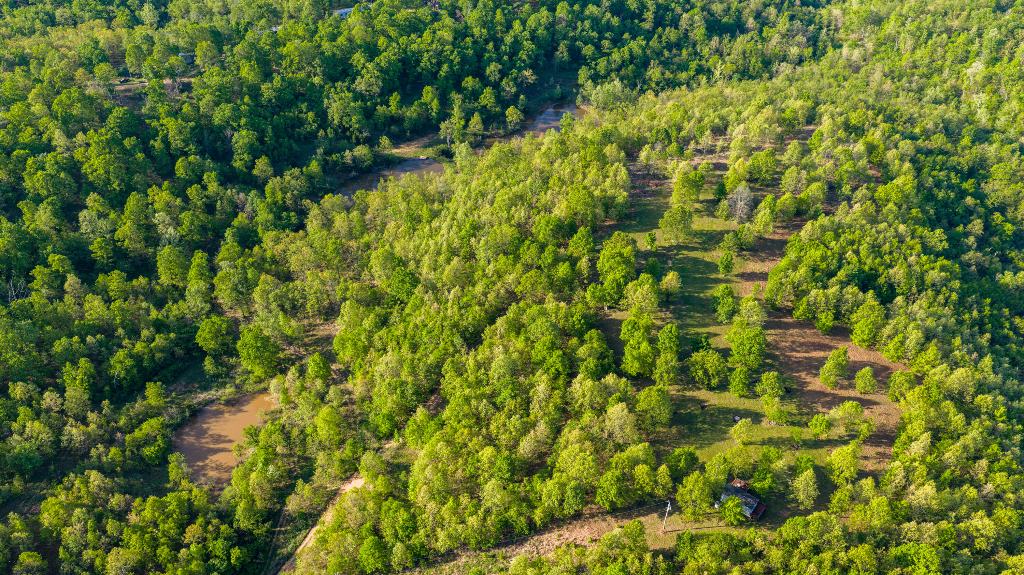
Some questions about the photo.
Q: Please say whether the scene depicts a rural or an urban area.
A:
rural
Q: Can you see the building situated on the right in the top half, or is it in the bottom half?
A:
bottom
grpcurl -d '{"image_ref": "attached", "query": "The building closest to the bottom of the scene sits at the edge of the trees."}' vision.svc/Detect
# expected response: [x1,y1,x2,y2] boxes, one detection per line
[721,478,769,522]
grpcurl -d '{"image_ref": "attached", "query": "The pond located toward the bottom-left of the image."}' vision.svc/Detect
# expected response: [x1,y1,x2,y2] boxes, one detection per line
[173,393,278,502]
